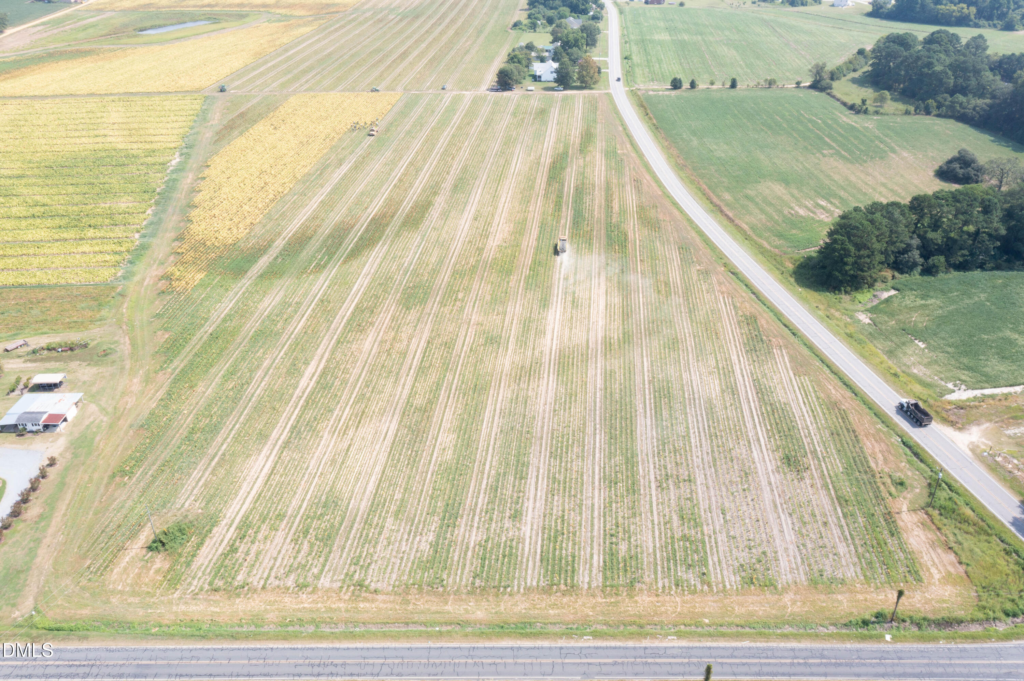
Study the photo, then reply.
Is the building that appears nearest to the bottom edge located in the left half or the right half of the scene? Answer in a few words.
left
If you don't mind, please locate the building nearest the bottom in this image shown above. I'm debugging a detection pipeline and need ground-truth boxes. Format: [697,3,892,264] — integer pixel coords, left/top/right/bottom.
[0,394,85,433]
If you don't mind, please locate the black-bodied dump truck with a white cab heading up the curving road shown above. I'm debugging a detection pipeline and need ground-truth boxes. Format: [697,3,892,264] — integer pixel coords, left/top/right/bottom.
[898,400,934,427]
